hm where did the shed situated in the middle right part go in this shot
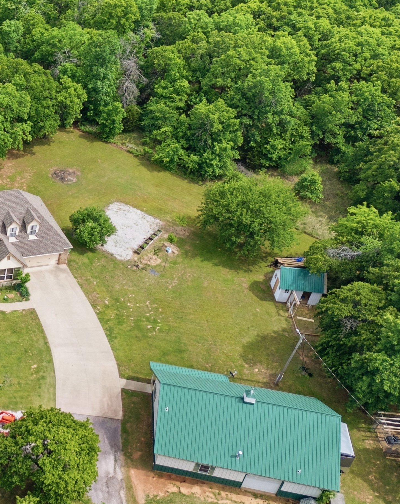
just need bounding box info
[269,267,325,305]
